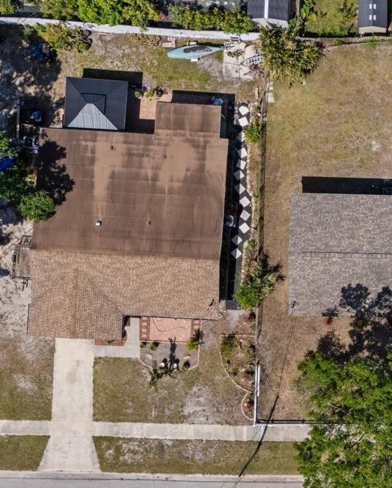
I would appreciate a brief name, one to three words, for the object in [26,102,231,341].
house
